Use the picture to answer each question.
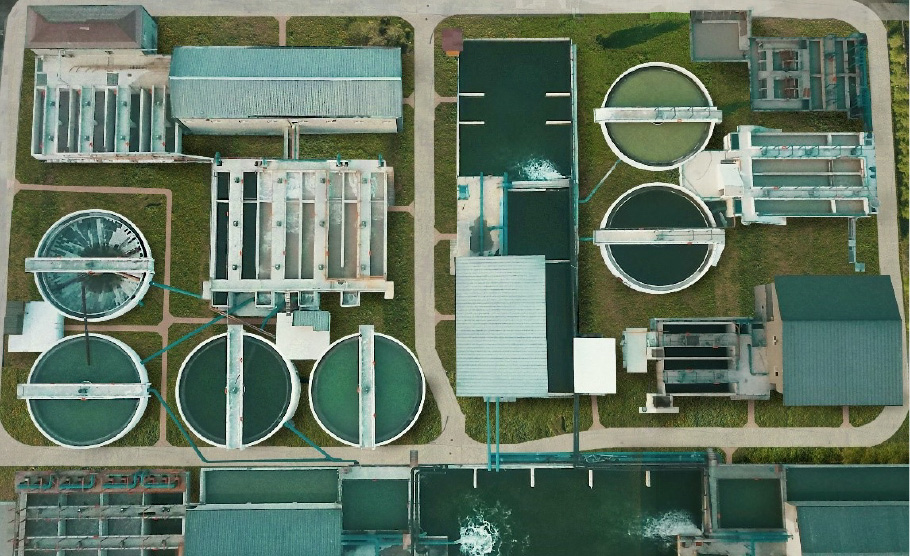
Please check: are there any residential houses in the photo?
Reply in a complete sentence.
Yes, looking at the shot, I can spot a residential house.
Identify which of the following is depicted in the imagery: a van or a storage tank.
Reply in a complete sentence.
There is a storage tank in the scene.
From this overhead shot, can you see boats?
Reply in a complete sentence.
No, there is no boat in the image.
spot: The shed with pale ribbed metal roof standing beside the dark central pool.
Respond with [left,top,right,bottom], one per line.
[450,240,547,397]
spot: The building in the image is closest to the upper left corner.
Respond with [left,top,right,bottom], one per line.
[25,4,154,54]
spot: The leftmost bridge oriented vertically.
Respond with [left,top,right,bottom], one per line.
[223,325,247,449]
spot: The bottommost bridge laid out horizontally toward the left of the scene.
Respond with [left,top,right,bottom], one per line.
[13,383,151,399]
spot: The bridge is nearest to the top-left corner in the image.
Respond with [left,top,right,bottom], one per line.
[23,258,156,273]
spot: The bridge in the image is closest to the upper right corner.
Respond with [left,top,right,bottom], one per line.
[593,107,723,126]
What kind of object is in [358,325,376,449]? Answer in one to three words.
bridge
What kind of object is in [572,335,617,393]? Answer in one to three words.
shed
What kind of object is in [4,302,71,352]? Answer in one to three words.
building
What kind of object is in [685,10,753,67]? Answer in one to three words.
storage tank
